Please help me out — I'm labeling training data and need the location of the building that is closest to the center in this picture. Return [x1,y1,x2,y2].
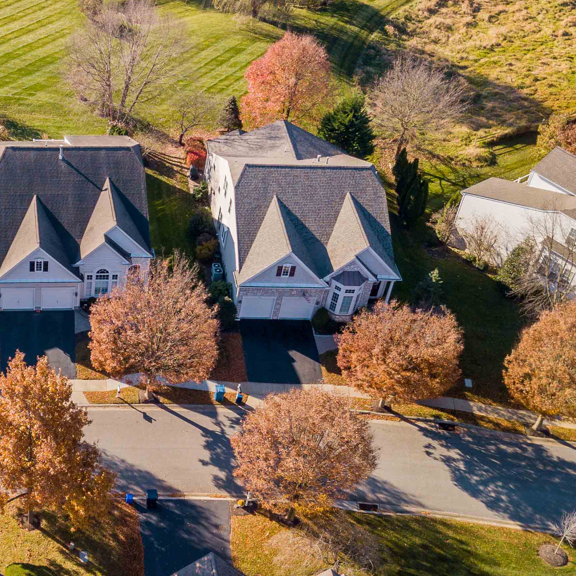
[206,116,398,319]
